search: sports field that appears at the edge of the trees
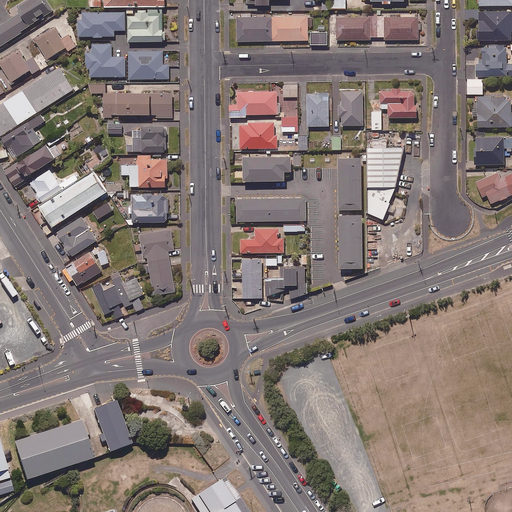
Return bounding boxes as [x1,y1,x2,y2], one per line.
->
[332,288,512,512]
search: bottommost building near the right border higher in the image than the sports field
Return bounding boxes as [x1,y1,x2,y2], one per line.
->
[477,170,512,208]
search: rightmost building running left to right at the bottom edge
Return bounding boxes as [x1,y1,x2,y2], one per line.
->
[192,482,260,512]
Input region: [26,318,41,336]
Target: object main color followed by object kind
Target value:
white vehicle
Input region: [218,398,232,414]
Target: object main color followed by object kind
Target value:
white vehicle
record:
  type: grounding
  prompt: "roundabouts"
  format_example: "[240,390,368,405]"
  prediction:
[190,328,229,367]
